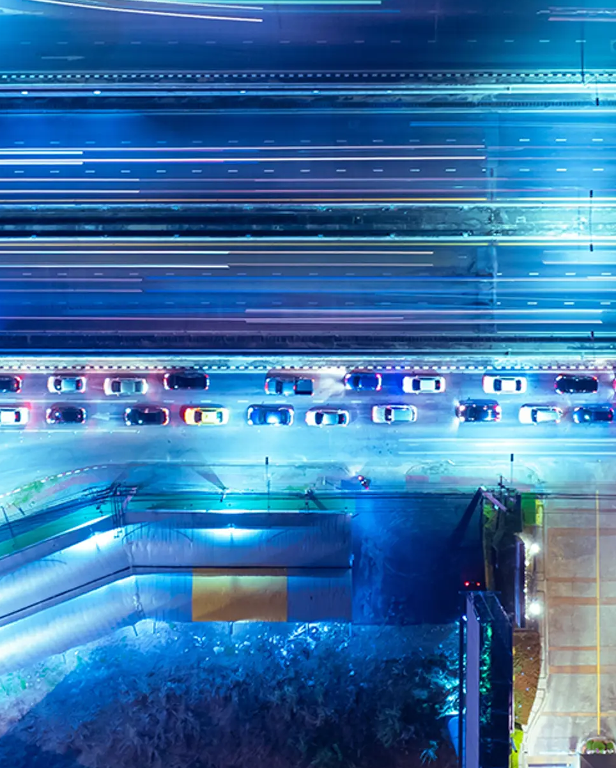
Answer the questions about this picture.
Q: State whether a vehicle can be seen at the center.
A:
Yes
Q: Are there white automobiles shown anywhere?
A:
Yes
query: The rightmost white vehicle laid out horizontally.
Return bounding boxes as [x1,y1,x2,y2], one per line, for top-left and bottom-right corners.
[520,405,563,425]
